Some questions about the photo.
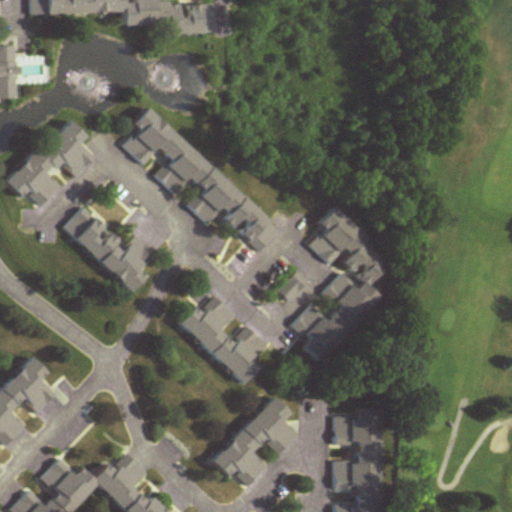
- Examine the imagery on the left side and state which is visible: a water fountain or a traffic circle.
water fountain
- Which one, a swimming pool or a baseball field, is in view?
swimming pool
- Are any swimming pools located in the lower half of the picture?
No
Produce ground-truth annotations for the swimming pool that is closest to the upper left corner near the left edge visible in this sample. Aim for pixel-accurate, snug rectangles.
[17,54,49,84]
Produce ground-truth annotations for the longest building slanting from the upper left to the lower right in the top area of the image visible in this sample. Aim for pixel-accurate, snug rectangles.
[120,108,274,241]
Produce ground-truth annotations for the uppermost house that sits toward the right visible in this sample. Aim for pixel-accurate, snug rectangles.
[307,212,383,286]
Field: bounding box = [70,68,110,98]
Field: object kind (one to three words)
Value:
fountain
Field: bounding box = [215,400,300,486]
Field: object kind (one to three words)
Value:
house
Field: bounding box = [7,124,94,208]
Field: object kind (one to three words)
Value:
house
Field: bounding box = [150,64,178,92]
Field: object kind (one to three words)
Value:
fountain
